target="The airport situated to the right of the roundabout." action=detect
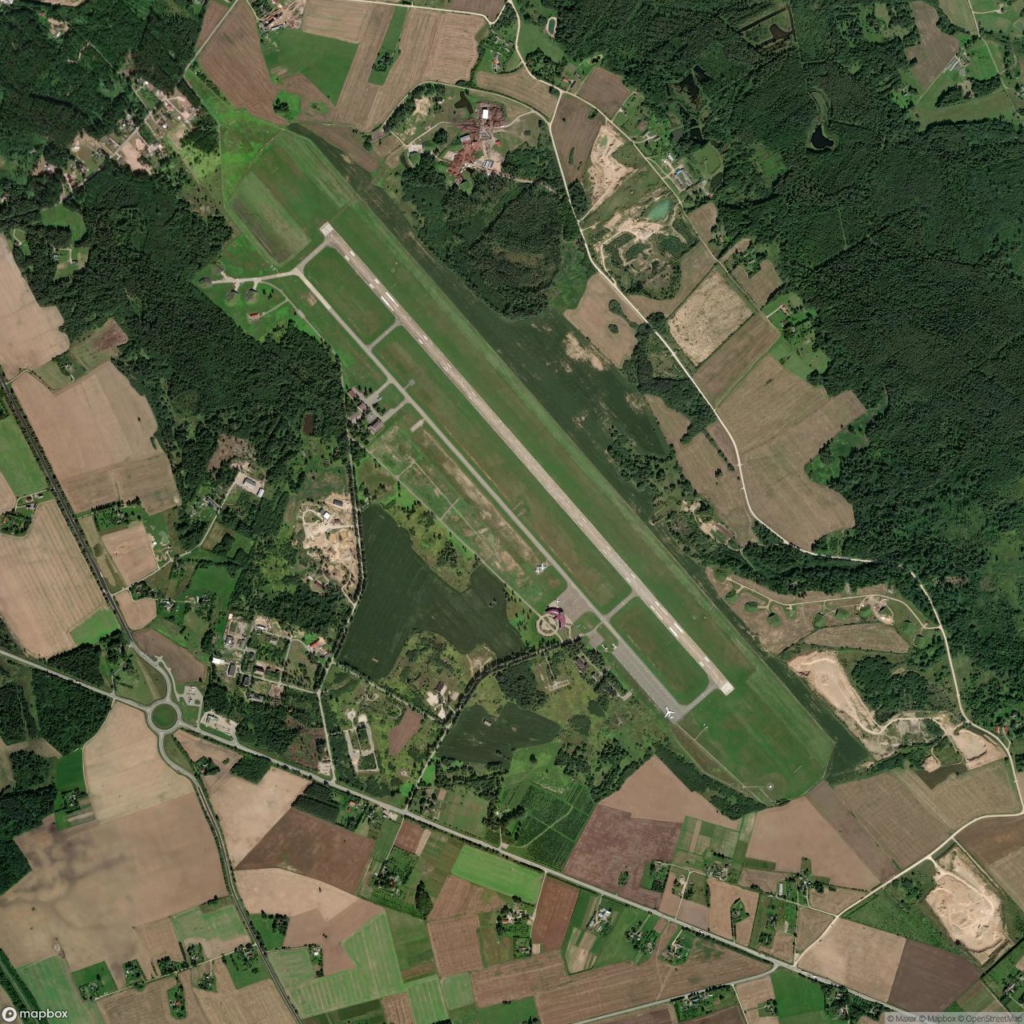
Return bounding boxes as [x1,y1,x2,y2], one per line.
[212,222,773,789]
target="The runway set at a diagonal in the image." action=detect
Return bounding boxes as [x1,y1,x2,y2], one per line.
[320,222,734,696]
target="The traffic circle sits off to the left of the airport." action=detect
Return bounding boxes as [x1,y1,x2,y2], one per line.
[141,694,187,741]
